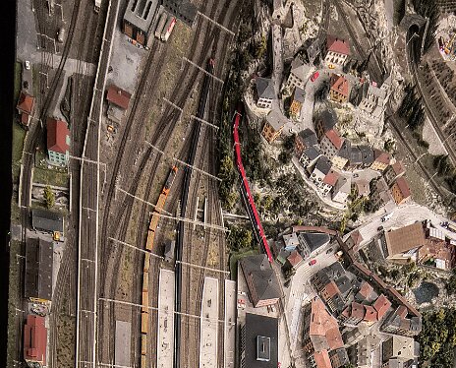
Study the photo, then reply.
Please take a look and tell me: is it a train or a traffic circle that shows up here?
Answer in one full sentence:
The one in the frame is a train.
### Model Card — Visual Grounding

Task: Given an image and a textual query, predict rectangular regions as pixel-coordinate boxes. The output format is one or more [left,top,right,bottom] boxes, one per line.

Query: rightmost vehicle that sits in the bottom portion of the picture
[439,217,456,231]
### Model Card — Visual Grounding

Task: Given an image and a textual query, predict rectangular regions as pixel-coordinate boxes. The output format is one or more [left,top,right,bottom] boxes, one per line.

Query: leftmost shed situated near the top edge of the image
[122,0,164,40]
